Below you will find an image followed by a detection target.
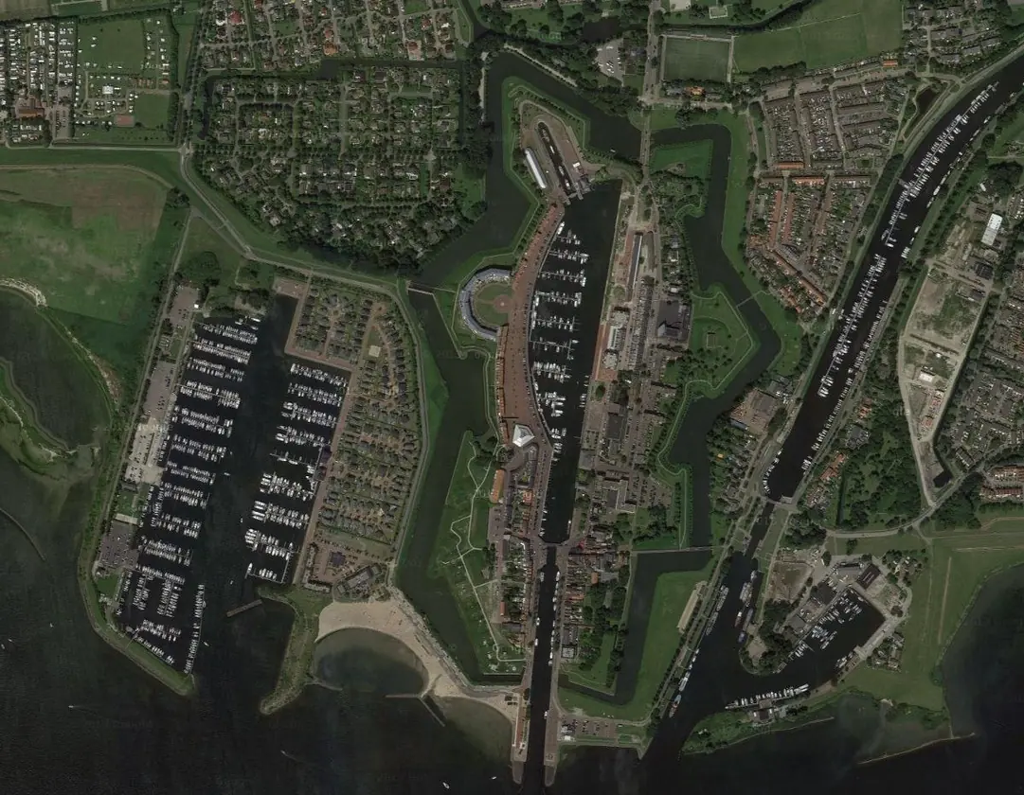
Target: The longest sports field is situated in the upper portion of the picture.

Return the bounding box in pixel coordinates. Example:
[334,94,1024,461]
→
[734,2,904,68]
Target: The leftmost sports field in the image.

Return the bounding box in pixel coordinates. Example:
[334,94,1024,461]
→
[665,38,729,80]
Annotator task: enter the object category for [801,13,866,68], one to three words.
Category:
sports field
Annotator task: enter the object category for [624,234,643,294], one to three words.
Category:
building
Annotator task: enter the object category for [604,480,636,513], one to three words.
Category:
house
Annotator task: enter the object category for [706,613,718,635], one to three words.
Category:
ship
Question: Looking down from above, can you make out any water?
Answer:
Yes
